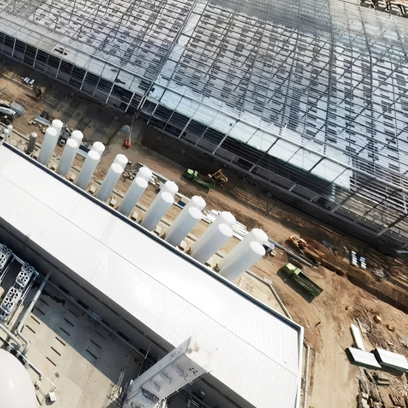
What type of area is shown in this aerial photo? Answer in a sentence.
This looks like an industrial area.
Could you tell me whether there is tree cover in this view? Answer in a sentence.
No, there's no tree cover in this view.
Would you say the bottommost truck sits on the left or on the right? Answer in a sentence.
The bottommost truck appears in the right half of the scene.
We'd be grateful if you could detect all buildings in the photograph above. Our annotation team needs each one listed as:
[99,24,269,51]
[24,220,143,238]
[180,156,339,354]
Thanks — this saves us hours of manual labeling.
[0,141,304,408]
[0,0,408,257]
